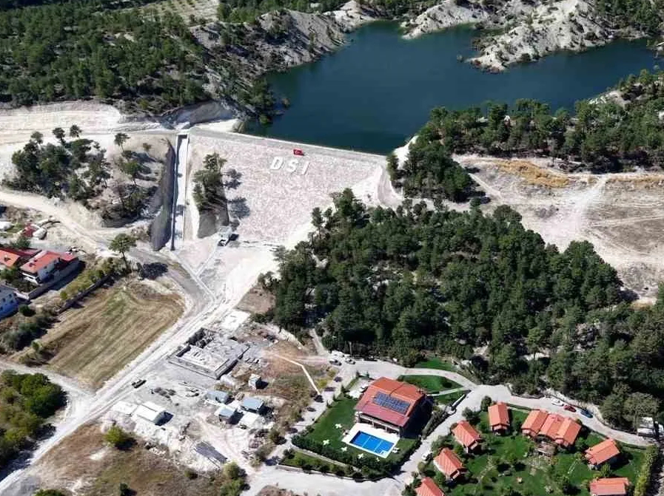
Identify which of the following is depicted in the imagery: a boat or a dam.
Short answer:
dam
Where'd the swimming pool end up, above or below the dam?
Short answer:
below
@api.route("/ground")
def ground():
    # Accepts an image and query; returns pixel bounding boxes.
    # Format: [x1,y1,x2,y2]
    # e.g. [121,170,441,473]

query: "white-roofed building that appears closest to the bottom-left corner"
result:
[134,405,169,430]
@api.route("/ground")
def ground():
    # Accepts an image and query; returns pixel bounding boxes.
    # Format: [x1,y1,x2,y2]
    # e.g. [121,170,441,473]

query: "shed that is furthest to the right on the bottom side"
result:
[637,416,662,443]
